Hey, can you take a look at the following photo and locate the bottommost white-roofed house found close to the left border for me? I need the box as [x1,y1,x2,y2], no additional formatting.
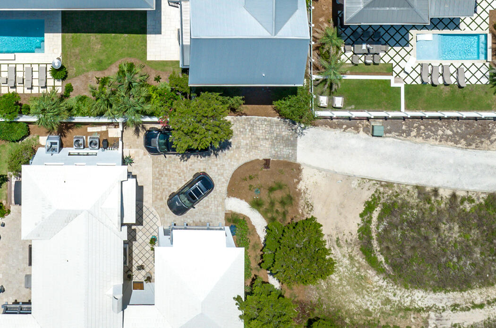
[0,146,136,328]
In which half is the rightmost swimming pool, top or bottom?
top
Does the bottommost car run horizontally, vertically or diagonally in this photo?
diagonally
